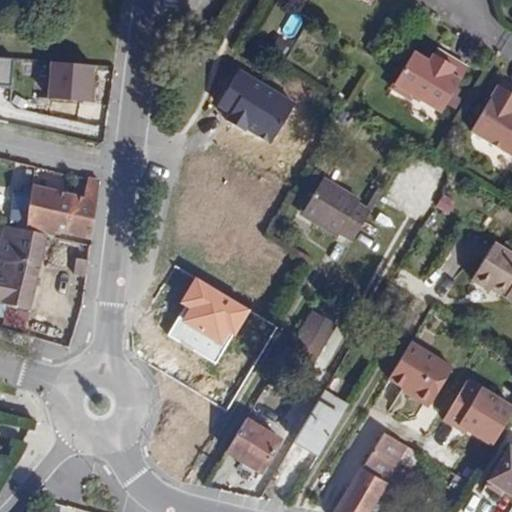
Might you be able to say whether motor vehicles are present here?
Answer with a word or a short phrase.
Yes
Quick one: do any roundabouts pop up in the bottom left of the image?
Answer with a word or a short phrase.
Yes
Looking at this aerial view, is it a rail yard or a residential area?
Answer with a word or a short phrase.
residential area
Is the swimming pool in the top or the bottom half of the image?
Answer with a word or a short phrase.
top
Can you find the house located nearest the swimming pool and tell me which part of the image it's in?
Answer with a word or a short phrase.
top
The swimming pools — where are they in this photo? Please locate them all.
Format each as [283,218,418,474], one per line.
[280,14,300,38]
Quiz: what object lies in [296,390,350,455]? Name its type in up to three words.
shed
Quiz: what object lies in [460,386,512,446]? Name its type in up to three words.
house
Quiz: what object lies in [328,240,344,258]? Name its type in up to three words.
car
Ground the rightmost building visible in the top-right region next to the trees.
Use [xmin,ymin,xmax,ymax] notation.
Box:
[472,84,512,155]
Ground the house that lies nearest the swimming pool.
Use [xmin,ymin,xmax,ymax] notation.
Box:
[216,70,294,140]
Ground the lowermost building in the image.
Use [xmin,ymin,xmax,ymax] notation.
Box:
[332,466,386,512]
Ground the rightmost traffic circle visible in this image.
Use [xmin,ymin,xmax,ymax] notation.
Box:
[48,351,152,454]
